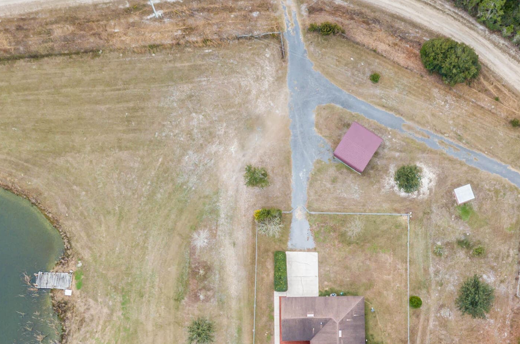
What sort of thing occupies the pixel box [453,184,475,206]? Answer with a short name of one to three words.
shed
